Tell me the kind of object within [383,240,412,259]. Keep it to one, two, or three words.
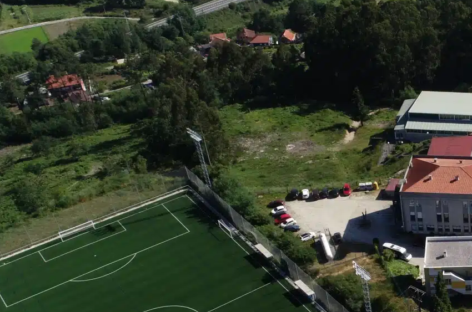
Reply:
vehicle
